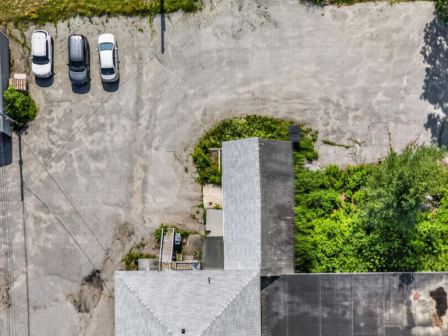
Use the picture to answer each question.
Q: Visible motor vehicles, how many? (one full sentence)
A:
Altogether the scene contains 3 motor vehicles.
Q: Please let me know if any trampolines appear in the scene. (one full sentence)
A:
No, there appears to be no trampoline in this shot.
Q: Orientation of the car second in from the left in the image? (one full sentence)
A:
The car second in from the left is oriented up and down.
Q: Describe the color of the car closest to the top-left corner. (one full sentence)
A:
In this view, the car closest to the top-left corner is white.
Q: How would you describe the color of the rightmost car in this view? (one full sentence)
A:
The rightmost car is white.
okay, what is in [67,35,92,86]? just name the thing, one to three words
car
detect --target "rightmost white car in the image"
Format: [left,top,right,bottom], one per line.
[95,34,120,83]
